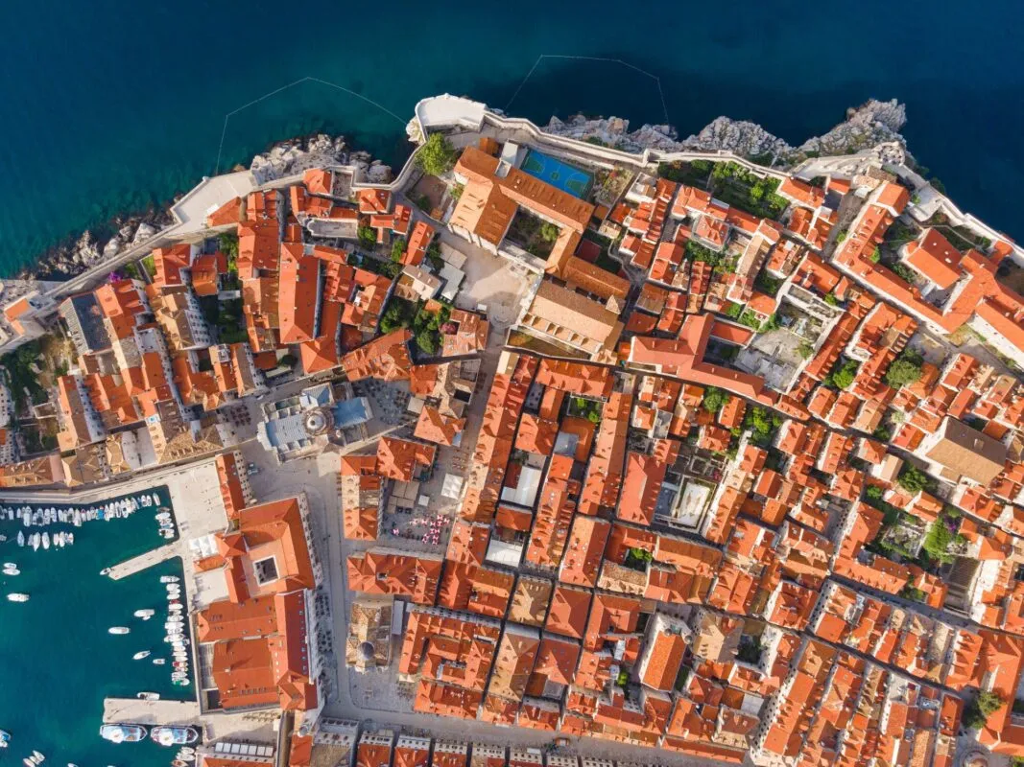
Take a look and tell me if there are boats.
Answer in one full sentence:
Yes, a boat is visible in the scene.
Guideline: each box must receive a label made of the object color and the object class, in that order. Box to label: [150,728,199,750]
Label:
white boat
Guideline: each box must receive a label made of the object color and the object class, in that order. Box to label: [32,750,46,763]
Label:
white boat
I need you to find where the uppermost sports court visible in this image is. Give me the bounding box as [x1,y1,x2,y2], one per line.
[517,147,599,201]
